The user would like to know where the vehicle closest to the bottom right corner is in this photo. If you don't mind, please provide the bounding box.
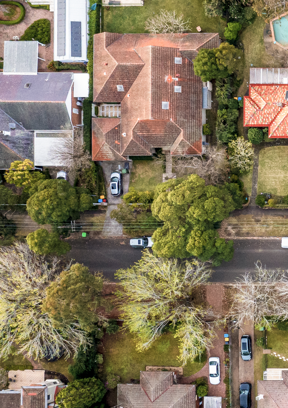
[238,382,253,408]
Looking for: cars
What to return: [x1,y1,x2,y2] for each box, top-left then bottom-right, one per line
[239,335,253,360]
[207,357,222,384]
[128,236,156,249]
[238,382,253,408]
[109,171,125,197]
[56,168,70,191]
